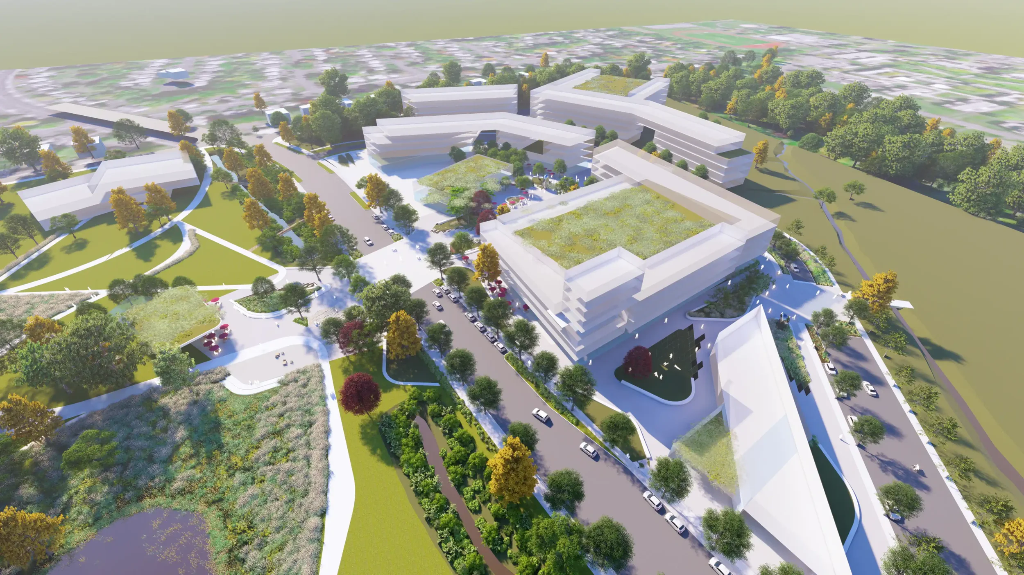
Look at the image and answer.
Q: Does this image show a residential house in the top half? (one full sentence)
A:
Yes, a residential house can be seen in the top half.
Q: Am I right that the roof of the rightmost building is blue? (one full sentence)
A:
No, the roof of the rightmost building is white.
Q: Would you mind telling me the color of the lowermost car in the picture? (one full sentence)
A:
From above, the lowermost car appears white.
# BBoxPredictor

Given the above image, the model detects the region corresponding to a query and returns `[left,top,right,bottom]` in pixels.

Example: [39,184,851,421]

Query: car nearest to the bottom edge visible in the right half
[707,554,729,575]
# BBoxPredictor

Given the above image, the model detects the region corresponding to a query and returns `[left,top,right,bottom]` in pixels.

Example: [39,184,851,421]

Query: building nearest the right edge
[711,315,837,575]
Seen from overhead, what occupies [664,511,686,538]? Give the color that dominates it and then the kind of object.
white car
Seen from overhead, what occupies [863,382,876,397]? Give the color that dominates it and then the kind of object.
white vehicle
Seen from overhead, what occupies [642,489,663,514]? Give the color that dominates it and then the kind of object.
white car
